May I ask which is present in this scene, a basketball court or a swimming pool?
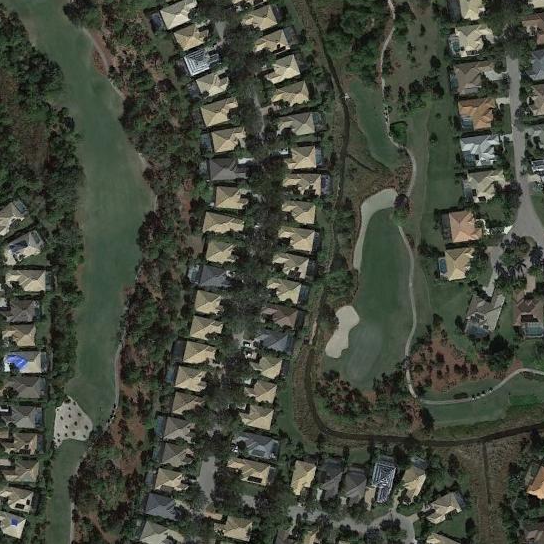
swimming pool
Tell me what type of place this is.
residential area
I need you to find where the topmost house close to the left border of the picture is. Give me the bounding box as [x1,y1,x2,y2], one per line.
[0,199,28,235]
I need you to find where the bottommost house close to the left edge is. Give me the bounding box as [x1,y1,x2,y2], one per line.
[0,512,31,539]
